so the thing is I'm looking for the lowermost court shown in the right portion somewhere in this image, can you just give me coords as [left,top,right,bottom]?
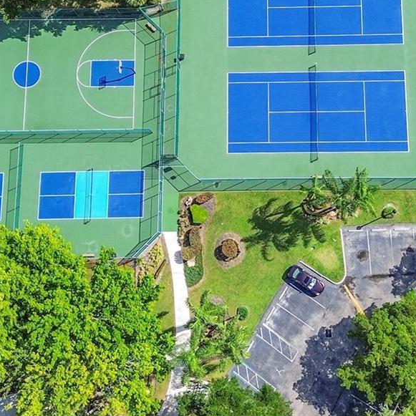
[226,69,409,153]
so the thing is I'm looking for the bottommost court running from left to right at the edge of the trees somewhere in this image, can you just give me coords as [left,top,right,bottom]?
[38,170,143,219]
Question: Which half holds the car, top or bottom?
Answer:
bottom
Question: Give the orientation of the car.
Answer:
diagonally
